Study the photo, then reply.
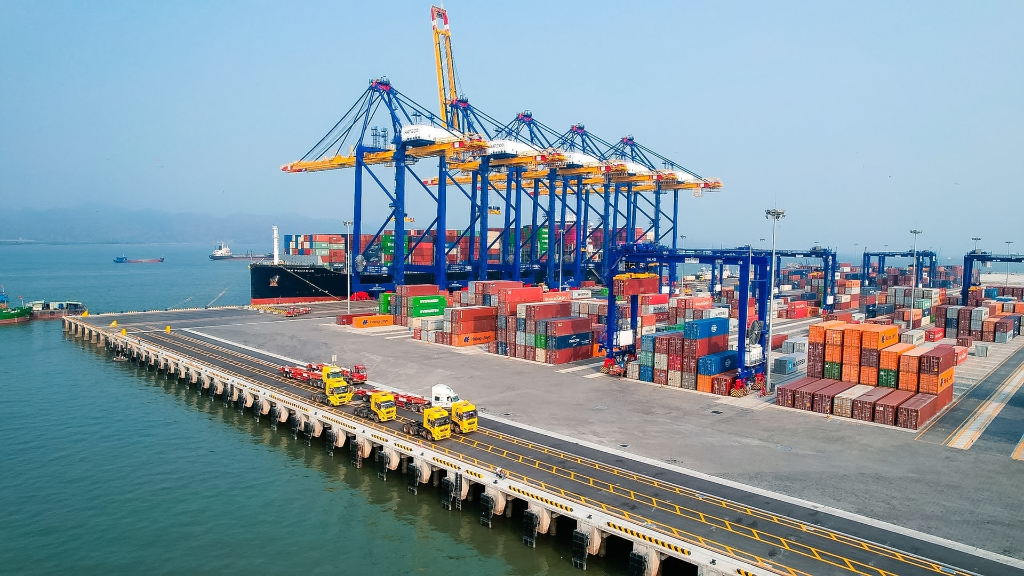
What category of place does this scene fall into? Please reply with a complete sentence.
The area seen from above is a port.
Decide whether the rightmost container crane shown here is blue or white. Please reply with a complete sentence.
The rightmost container crane is blue.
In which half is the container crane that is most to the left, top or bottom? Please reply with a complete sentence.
The container crane that is most to the left sits in the top half of the picture.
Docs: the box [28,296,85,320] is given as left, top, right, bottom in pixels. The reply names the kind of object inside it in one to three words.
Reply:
ship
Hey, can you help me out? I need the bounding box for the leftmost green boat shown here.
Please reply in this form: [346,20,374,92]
[0,287,32,321]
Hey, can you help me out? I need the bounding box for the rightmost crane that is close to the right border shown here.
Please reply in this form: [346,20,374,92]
[961,249,1024,304]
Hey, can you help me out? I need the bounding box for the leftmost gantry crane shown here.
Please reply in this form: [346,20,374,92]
[278,71,496,303]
